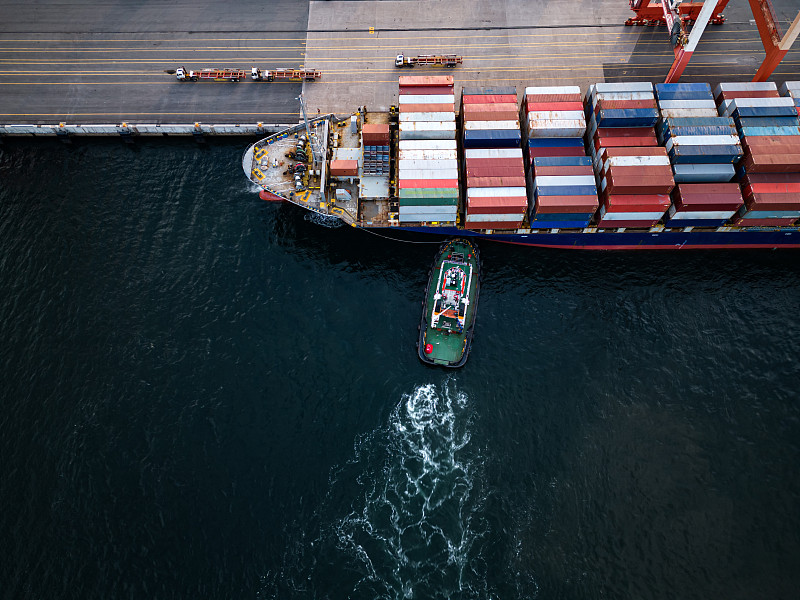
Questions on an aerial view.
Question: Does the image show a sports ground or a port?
port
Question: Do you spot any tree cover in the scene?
No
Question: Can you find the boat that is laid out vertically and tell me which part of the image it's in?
center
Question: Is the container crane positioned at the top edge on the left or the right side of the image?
right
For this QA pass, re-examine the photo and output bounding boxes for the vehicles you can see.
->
[395,52,464,69]
[248,66,320,82]
[173,66,245,82]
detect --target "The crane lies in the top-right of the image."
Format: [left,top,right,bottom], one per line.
[616,0,800,89]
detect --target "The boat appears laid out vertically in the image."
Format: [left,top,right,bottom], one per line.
[416,237,481,371]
